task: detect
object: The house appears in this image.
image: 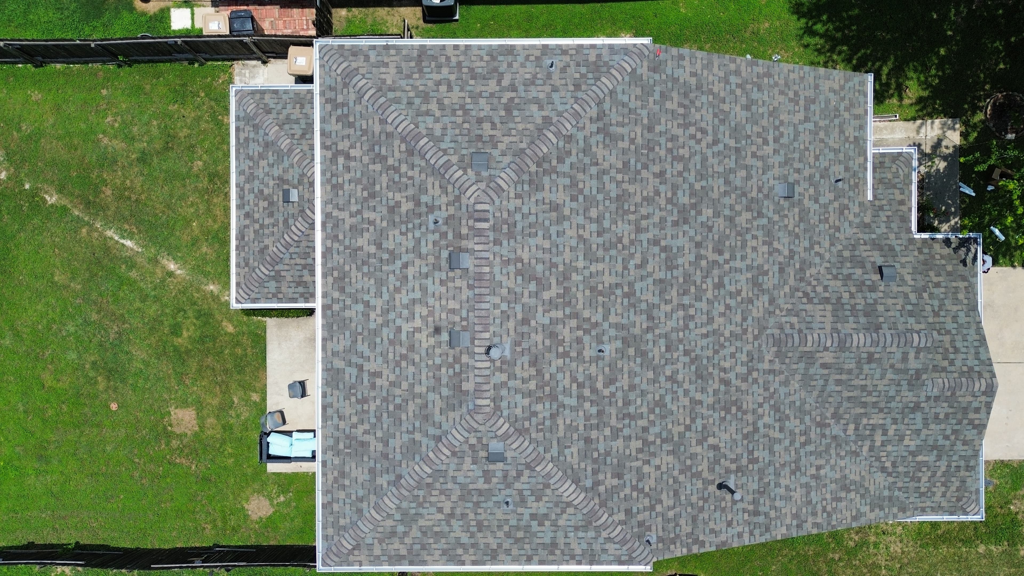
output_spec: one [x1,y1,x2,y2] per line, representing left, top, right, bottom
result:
[229,38,998,573]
